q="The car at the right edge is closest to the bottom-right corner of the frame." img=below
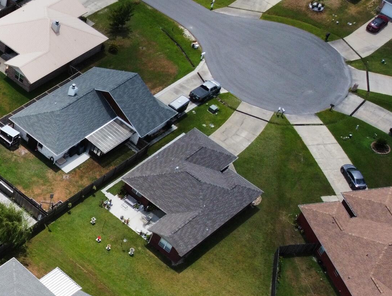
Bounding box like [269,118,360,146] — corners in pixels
[345,159,375,190]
